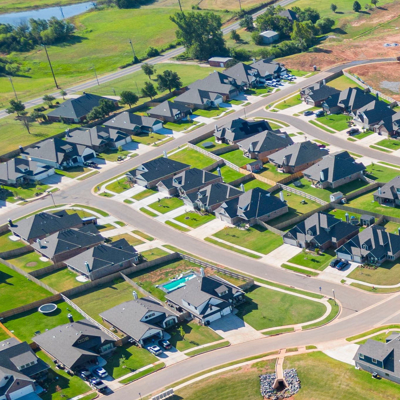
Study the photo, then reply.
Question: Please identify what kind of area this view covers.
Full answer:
What you see here is a residential area.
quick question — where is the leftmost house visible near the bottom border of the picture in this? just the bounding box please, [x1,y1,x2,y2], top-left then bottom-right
[0,341,64,400]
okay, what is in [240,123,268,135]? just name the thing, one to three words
solar panel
